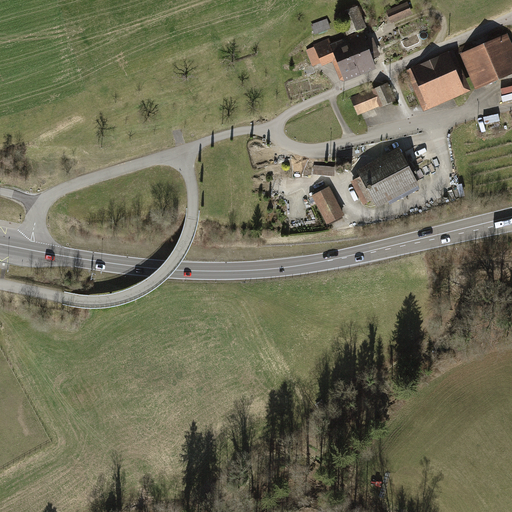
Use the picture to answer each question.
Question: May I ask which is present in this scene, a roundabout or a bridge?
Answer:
bridge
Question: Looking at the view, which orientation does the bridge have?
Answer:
on a diagonal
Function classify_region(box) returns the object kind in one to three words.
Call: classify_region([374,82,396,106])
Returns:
house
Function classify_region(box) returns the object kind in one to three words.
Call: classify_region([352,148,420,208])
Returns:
building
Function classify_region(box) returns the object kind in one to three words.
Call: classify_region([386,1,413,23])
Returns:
shed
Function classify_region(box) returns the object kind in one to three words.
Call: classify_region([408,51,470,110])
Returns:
barn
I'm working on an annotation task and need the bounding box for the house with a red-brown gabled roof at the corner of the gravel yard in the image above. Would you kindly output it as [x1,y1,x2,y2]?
[312,186,344,224]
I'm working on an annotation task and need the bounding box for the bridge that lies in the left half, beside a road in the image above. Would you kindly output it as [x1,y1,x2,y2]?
[57,206,200,308]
